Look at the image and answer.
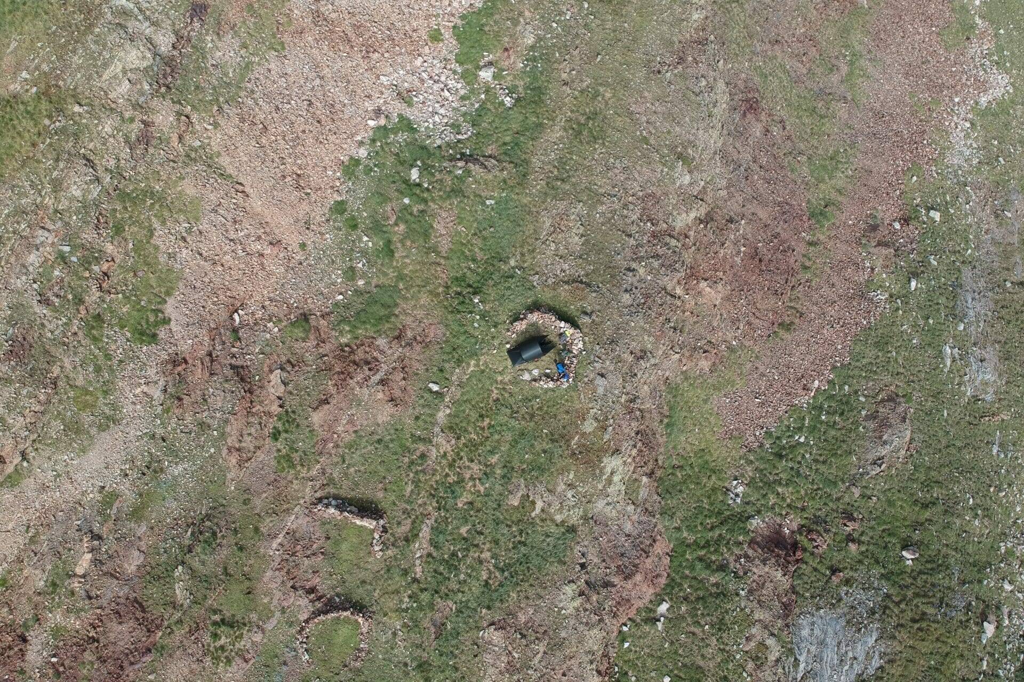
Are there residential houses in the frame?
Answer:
No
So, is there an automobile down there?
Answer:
No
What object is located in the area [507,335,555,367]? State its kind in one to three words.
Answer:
tent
